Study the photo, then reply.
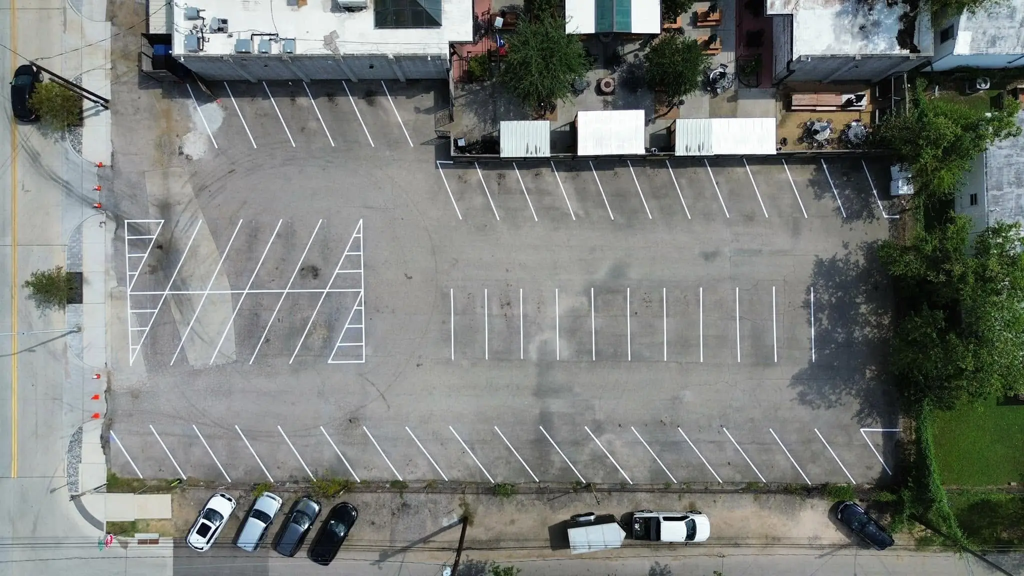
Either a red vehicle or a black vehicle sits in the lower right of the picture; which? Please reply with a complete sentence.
You can see a black vehicle in the lower right of the picture.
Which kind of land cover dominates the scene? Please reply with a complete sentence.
Most of the picture is covered by paved ground.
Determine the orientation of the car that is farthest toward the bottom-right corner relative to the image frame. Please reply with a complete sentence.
The car that is farthest toward the bottom-right corner runs at an angle in the image.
